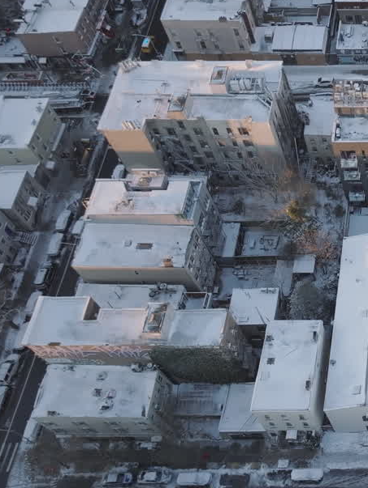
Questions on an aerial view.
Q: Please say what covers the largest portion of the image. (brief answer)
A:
buildings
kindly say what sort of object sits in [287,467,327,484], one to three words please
car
